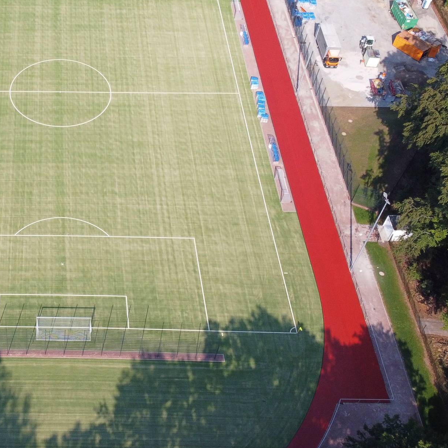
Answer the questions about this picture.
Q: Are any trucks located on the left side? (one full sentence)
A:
No, no truck is visible on the left side.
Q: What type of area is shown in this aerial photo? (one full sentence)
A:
This image shows a sports ground.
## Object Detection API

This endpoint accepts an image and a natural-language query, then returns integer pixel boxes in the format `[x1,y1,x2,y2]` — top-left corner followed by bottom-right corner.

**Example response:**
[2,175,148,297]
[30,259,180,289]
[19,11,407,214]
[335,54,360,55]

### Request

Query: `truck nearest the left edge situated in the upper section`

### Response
[317,24,342,66]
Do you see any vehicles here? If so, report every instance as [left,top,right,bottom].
[359,38,374,54]
[317,24,342,66]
